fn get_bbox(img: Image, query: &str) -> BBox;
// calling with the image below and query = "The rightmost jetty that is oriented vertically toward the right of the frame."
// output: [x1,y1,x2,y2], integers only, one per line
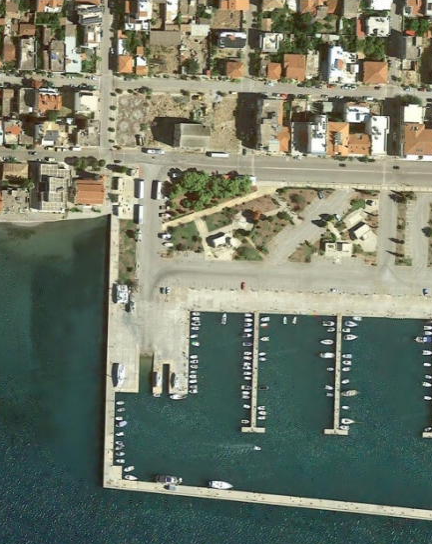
[323,316,348,435]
